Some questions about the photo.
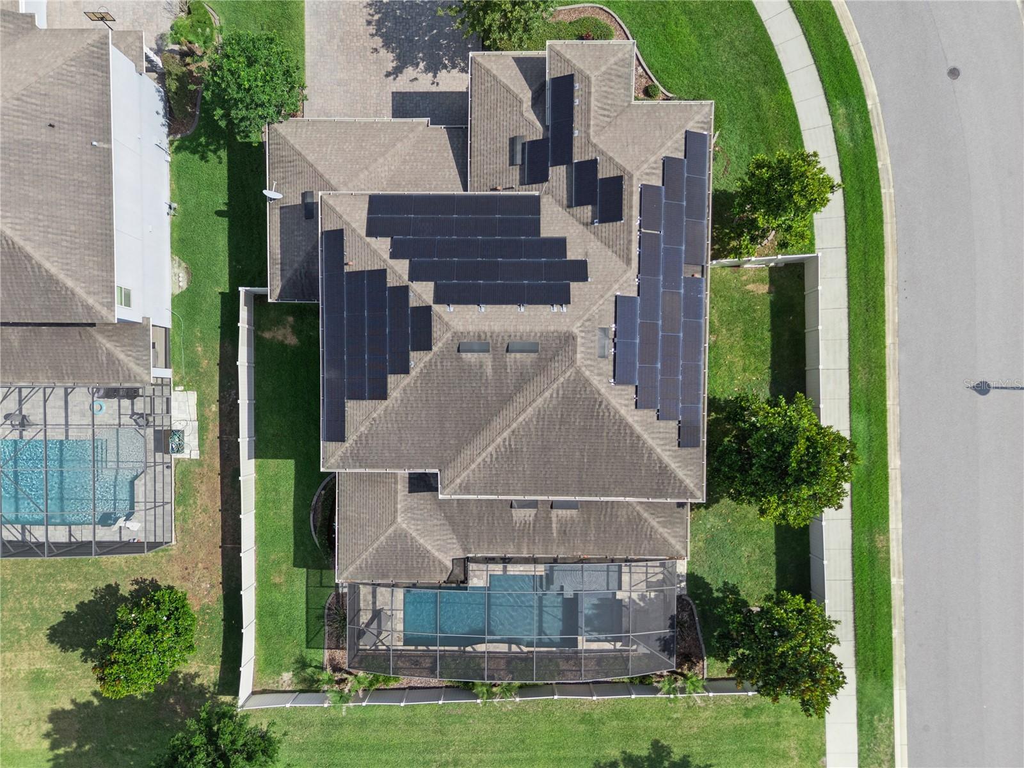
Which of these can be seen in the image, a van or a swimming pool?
swimming pool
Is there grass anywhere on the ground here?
Yes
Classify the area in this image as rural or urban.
urban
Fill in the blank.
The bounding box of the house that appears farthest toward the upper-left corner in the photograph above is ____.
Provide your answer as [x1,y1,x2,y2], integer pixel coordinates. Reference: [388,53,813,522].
[0,0,172,386]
